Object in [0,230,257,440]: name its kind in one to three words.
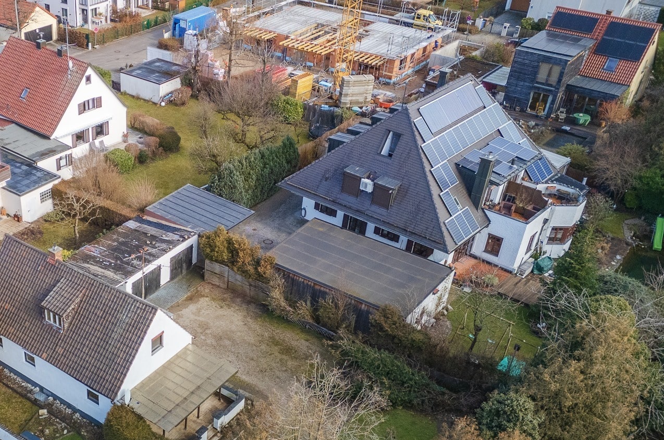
house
